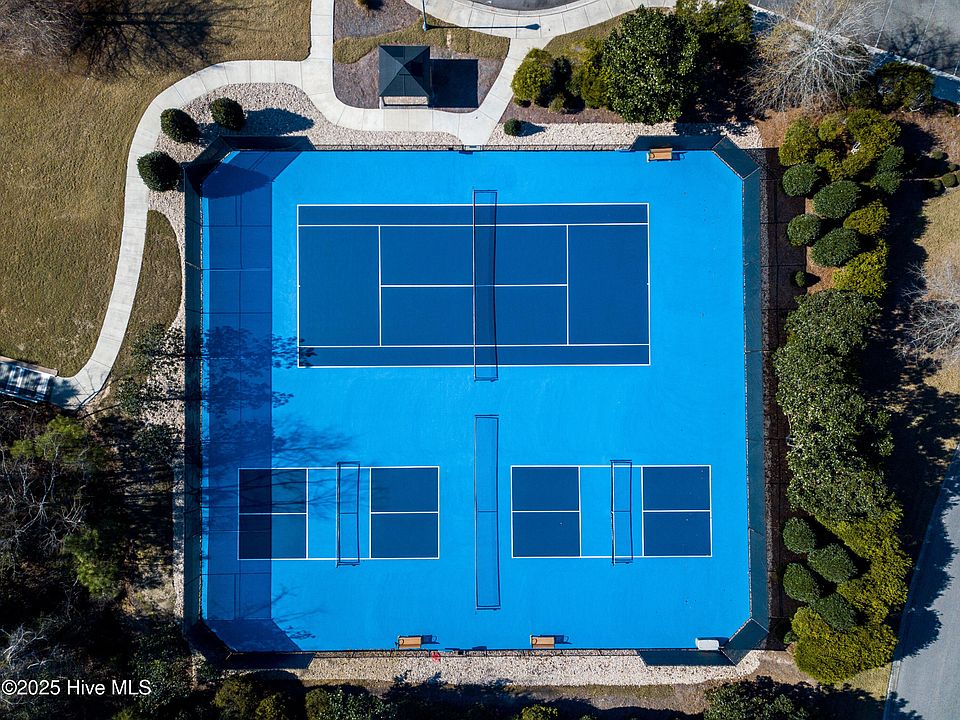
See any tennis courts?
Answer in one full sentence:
Yes, looking at the shot, I can spot a tennis court.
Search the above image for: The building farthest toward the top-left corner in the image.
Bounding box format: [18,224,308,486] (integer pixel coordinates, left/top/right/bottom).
[379,46,432,108]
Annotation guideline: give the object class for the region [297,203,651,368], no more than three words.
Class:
tennis court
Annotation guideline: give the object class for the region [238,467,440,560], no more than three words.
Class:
sports court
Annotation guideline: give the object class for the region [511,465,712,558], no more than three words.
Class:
sports court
